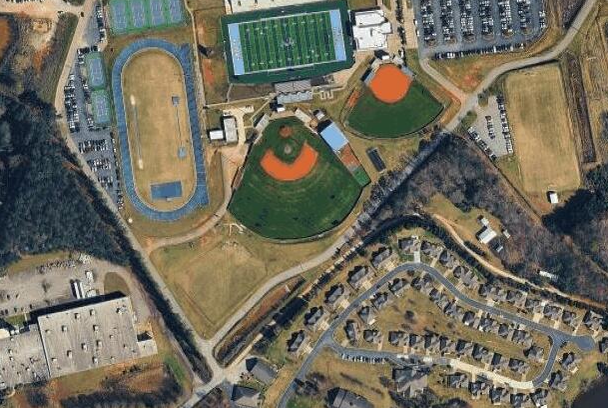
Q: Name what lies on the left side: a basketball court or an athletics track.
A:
athletics track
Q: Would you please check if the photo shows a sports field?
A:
Yes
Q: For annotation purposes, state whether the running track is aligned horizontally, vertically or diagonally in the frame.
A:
vertically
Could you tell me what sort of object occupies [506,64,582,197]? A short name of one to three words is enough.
sports field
